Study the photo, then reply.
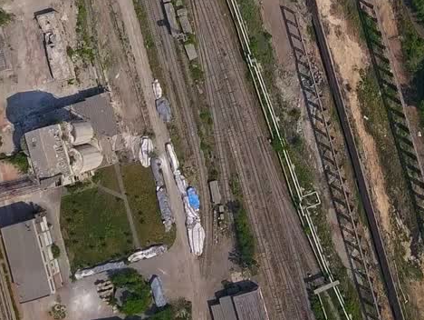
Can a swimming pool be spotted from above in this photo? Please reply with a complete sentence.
No, I find no swimming pool anywhere in the image.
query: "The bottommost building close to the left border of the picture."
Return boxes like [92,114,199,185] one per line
[1,214,66,302]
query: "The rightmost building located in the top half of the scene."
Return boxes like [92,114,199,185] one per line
[71,92,125,136]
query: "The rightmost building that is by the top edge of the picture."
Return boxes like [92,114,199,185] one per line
[33,8,76,82]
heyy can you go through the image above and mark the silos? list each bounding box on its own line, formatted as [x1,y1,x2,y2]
[62,142,105,171]
[58,116,95,141]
